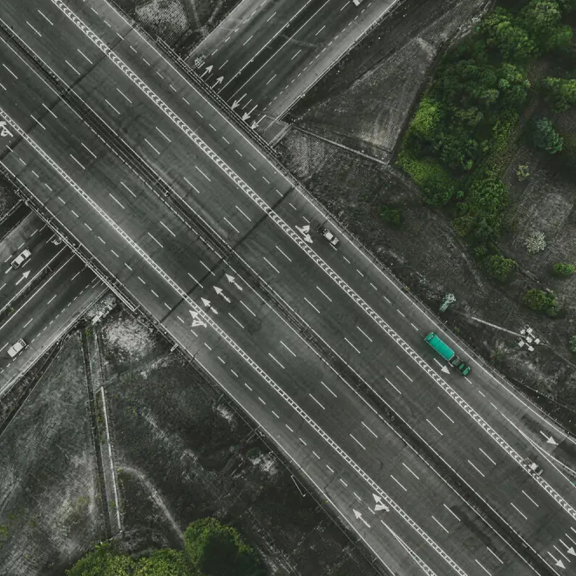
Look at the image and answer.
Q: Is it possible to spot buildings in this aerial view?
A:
No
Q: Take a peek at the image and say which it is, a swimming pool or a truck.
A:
truck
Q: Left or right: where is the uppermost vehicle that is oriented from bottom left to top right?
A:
left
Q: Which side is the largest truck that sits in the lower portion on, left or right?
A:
right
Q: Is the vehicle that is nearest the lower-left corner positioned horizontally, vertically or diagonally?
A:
diagonally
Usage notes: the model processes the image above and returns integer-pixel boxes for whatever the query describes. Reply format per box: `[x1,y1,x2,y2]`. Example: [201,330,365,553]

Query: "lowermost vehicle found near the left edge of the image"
[6,338,27,358]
